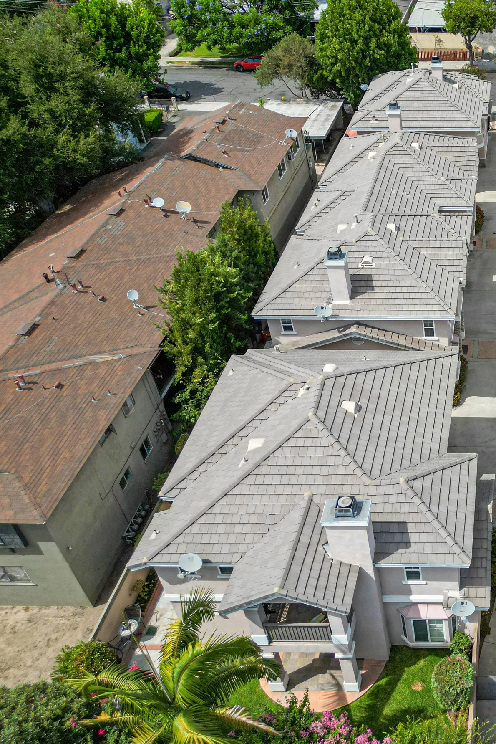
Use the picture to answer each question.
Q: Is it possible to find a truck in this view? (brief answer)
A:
No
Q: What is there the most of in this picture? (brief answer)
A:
buildings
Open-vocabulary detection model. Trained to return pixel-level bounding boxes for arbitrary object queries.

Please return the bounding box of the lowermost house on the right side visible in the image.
[129,344,495,693]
